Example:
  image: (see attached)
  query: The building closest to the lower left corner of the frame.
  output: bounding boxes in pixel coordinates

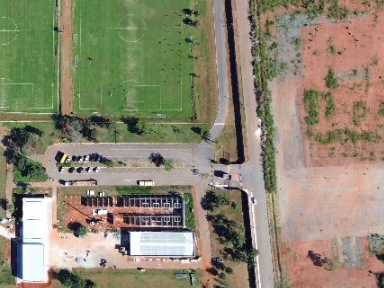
[22,242,44,281]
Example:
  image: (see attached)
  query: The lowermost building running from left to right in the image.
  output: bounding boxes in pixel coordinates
[129,230,194,256]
